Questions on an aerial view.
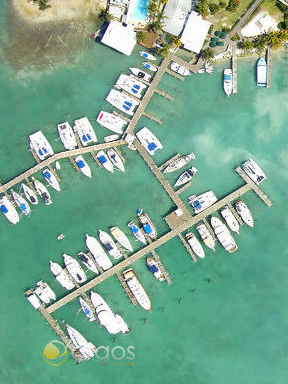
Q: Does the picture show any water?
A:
Yes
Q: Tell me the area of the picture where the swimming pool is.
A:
top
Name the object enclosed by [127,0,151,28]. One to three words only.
swimming pool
